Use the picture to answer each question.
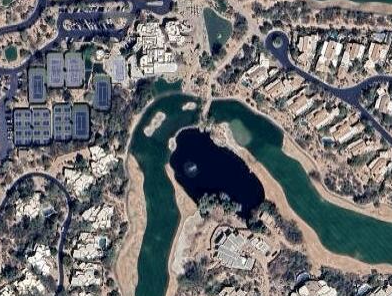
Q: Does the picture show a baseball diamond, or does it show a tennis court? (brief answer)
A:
tennis court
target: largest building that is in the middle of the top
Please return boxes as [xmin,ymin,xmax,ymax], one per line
[131,22,191,73]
